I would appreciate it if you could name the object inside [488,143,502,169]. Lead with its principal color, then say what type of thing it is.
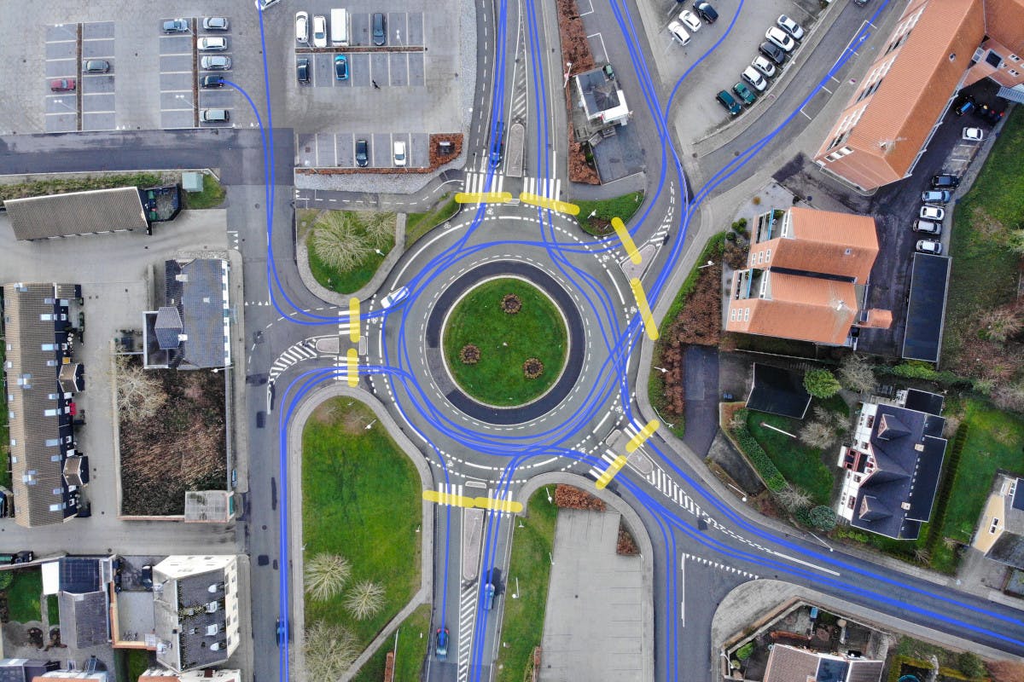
blue car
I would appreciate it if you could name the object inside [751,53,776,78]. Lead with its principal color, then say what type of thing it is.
white car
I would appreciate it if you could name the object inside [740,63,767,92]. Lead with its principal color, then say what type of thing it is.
white car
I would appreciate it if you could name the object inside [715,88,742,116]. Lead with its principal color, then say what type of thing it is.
blue car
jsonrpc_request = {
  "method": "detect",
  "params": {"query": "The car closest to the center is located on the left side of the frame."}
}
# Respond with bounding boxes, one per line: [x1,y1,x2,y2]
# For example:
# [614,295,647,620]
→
[381,286,409,308]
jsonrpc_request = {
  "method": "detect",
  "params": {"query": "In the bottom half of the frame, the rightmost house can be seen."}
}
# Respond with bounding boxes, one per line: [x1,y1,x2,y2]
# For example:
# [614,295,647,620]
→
[967,475,1024,567]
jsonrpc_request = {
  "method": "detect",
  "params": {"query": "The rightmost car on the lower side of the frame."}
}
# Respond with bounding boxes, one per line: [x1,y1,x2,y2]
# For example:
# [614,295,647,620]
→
[483,583,496,611]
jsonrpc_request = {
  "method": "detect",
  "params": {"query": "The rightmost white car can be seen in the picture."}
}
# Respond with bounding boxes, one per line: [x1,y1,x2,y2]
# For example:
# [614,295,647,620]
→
[961,126,984,141]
